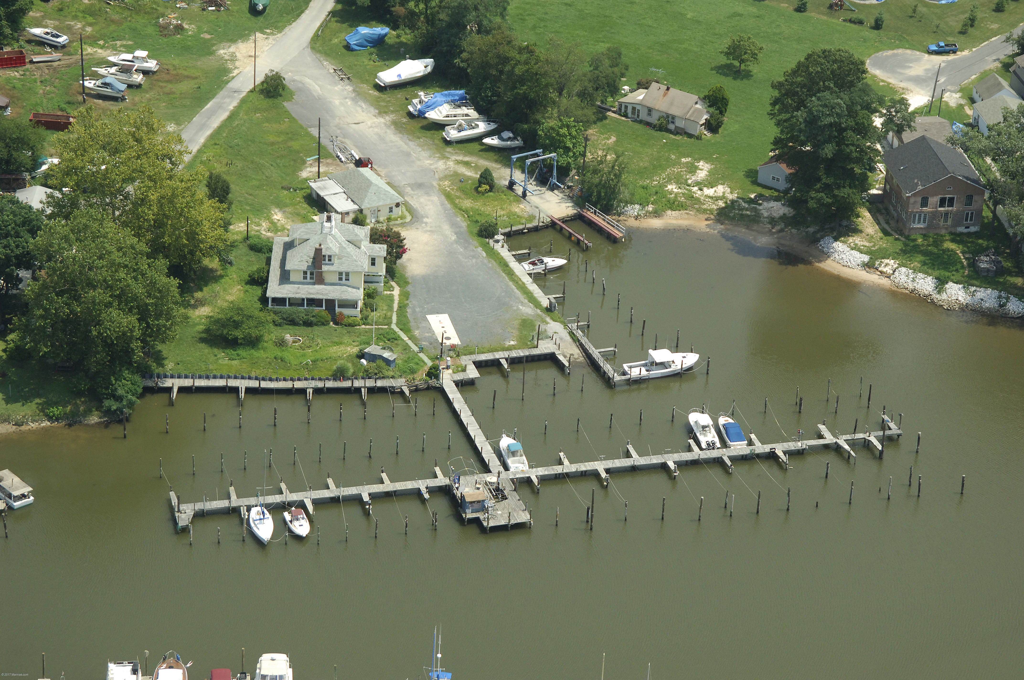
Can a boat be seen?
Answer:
Yes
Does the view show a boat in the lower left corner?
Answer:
Yes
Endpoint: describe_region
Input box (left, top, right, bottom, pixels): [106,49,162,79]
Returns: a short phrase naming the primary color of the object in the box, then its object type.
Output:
white boat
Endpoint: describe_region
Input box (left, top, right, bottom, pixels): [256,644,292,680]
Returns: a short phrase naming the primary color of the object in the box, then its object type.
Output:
white boat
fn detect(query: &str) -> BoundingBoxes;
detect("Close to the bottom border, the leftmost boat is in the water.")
[105,660,143,680]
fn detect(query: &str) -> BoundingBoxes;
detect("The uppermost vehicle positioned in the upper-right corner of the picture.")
[925,43,958,57]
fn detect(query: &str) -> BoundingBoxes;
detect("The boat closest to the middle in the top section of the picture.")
[523,257,567,273]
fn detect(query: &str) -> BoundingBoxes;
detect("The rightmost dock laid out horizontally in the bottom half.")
[837,430,904,442]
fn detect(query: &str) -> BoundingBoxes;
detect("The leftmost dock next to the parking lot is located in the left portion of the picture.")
[180,478,453,516]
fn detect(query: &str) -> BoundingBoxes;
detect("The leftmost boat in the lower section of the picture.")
[0,461,36,513]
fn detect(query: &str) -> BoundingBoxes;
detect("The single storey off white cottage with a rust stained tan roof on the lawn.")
[616,82,720,137]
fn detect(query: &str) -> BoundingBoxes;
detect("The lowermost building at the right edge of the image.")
[886,140,989,235]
